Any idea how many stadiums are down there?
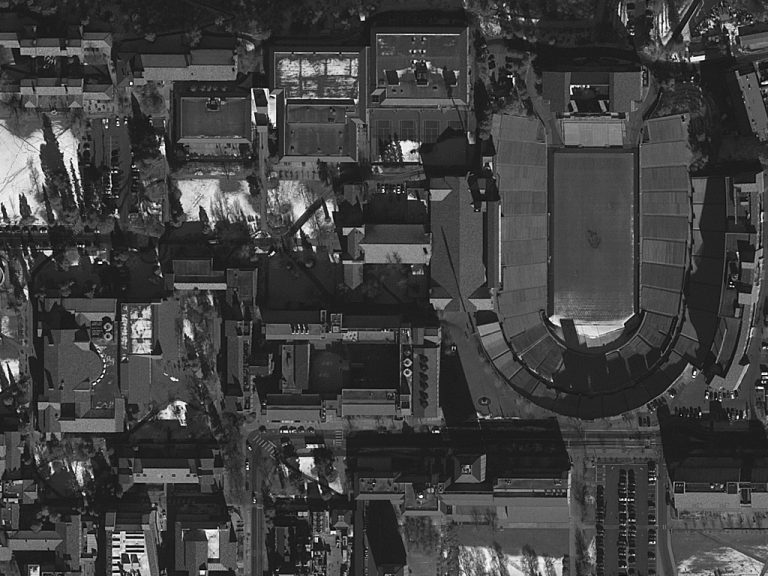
1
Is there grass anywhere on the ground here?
Yes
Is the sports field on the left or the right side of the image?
right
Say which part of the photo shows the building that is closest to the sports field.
top right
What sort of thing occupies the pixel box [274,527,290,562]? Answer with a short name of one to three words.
house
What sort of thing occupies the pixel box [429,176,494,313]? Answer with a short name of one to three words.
building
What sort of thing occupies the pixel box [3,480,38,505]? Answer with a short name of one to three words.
house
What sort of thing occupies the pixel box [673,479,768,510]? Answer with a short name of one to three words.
building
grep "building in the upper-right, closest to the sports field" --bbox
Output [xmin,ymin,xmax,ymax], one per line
[556,112,628,148]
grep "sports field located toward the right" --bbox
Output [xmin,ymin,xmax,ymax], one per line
[547,146,640,353]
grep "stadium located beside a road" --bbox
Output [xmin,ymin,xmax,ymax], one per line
[477,112,728,420]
